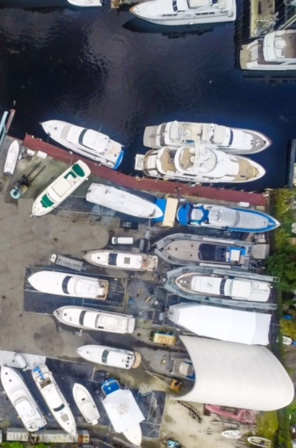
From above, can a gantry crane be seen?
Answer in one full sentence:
No, the scene contains no gantry crane.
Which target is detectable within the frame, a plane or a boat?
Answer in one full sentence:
The image shows a boat.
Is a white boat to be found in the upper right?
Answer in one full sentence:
Yes, looking in the upper right, one can make out a white boat.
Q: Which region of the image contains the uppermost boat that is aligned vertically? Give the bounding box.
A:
[3,140,20,177]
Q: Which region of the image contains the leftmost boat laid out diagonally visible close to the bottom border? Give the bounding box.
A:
[2,366,52,436]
